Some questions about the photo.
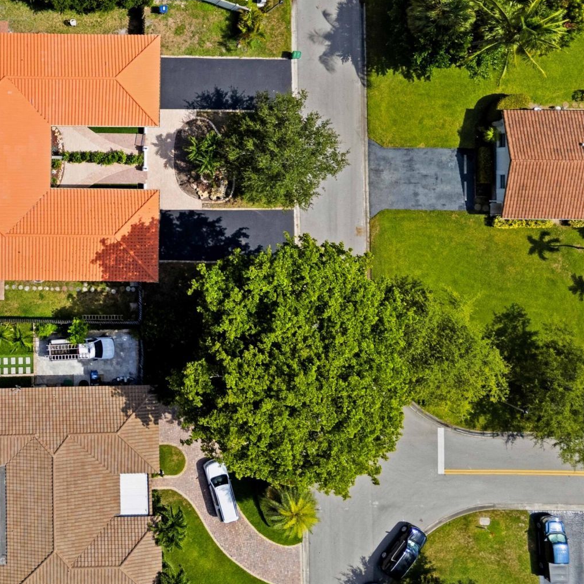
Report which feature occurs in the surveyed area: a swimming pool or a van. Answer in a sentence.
Of the two, only a van appears.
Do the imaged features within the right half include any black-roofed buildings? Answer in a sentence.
No, looking within the right half, there is no black-roofed building.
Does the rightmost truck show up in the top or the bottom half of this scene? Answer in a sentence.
The rightmost truck is in the bottom half of the image.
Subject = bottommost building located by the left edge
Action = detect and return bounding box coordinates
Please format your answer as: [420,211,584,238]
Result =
[0,385,163,584]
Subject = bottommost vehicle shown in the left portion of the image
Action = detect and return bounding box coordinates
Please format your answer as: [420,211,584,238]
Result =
[203,458,242,523]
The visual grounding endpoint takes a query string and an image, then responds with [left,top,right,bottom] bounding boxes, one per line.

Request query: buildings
[488,109,584,221]
[0,33,160,282]
[0,385,163,584]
